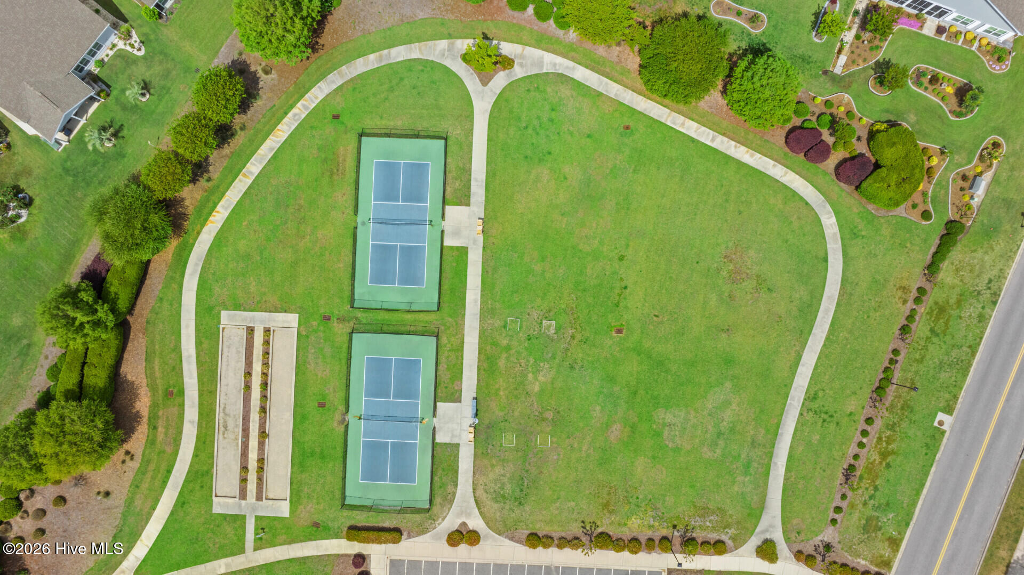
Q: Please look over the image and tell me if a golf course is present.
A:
No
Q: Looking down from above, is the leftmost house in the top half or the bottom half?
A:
top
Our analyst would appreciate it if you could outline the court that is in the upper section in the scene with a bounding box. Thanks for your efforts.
[354,136,445,311]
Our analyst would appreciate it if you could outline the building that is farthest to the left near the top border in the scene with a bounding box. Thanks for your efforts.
[0,0,120,150]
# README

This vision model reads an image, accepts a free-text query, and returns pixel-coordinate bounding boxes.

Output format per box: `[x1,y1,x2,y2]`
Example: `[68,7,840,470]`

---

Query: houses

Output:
[142,0,176,15]
[894,0,1024,41]
[0,0,120,150]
